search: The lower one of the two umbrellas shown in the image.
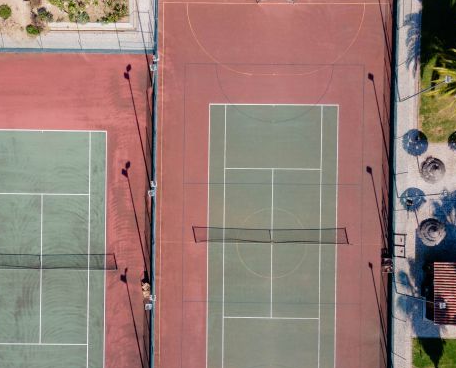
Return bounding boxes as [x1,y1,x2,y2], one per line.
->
[415,216,444,246]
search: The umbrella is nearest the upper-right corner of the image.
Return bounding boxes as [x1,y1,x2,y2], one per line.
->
[416,154,446,183]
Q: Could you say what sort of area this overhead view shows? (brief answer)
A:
sports ground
